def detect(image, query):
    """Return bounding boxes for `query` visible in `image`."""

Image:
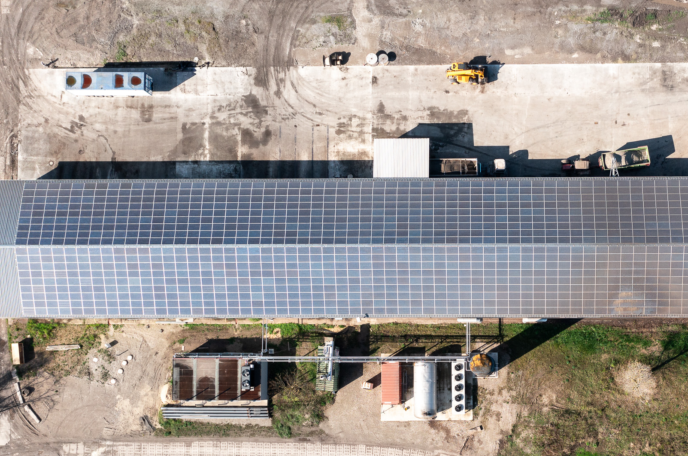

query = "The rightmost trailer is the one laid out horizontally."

[589,145,652,174]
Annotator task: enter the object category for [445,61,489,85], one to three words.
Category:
work vehicle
